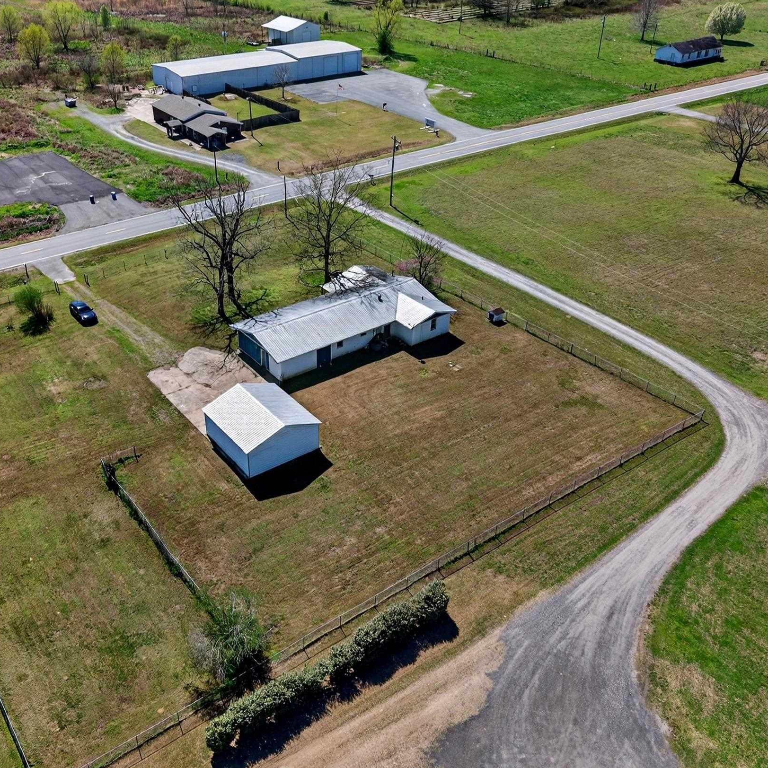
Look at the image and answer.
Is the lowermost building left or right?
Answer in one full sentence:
You can find the lowermost building on the left side of the picture.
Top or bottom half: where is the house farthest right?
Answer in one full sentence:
The house farthest right is in the top half of the image.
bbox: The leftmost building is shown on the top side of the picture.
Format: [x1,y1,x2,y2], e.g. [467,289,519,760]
[152,97,252,150]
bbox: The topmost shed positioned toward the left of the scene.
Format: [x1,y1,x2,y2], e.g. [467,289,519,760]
[256,13,320,45]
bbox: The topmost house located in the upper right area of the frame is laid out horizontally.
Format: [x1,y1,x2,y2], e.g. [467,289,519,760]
[655,36,725,65]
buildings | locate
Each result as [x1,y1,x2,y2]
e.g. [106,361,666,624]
[486,308,506,326]
[152,97,252,150]
[157,39,364,94]
[200,383,325,478]
[231,264,457,381]
[256,13,320,45]
[655,36,725,65]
